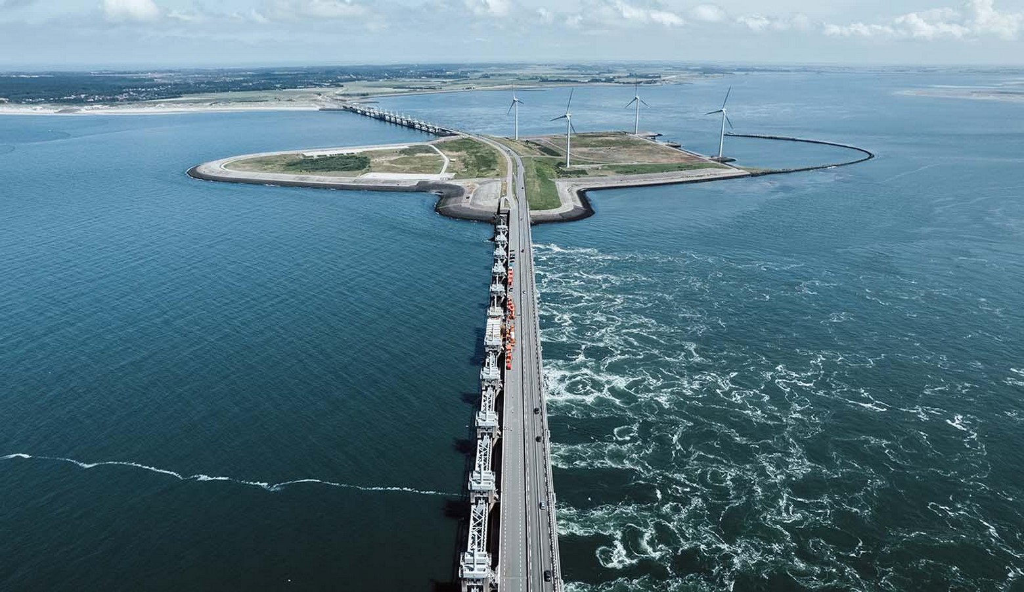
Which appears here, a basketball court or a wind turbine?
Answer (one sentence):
Visible in the photo is a wind turbine.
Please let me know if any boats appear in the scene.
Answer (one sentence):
No, the frame has no boat in it.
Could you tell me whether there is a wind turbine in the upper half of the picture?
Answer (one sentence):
Yes, looking in the upper half of the picture, one can make out a wind turbine.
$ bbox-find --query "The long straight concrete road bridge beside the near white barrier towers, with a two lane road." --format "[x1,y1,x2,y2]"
[498,204,562,592]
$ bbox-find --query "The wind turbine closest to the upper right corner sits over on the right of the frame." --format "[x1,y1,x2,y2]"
[704,88,733,159]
